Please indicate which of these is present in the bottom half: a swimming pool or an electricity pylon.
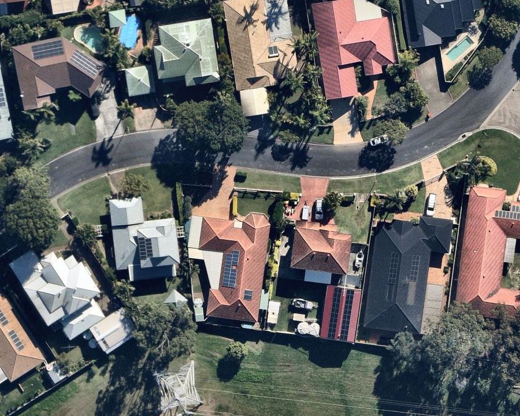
electricity pylon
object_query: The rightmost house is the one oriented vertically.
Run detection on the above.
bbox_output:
[454,183,520,322]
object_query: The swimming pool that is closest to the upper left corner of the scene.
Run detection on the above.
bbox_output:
[74,24,105,53]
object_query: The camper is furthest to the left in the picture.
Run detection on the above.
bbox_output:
[265,300,280,325]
